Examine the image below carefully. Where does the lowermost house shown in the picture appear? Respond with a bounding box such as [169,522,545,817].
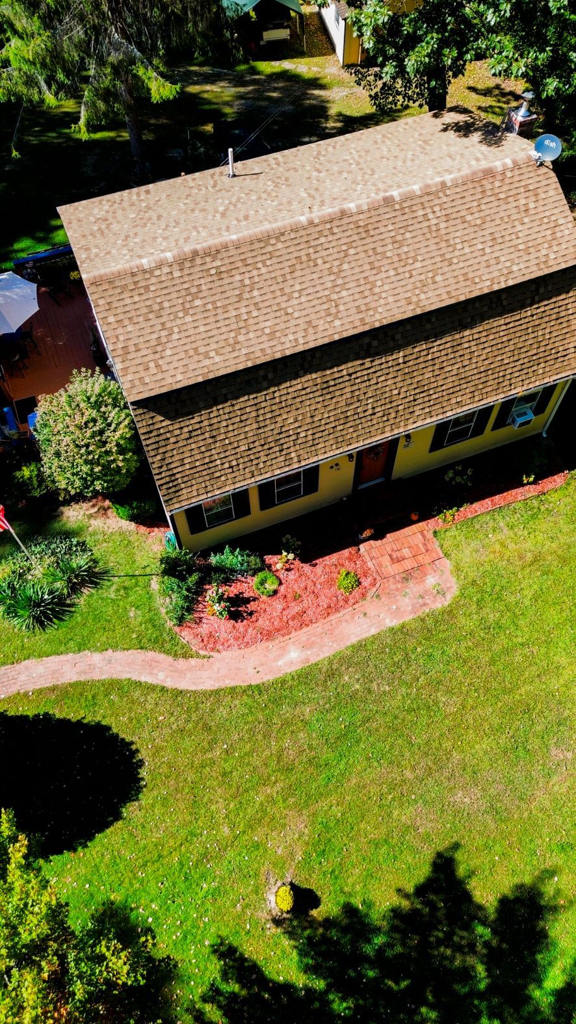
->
[57,86,576,551]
